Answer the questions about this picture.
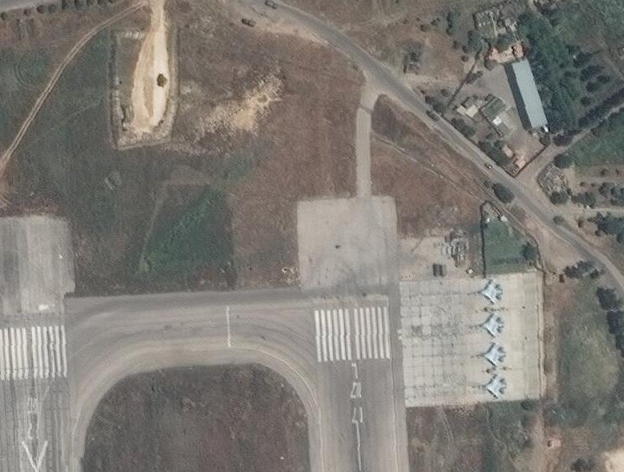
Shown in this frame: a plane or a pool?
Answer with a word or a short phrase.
plane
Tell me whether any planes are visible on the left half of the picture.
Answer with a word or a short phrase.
No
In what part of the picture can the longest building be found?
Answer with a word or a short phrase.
top right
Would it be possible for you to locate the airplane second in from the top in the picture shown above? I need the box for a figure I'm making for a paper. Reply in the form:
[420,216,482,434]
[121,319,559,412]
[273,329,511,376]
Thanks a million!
[472,315,504,337]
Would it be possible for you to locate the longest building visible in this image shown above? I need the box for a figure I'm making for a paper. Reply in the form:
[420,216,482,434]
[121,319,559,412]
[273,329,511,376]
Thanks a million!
[513,60,547,128]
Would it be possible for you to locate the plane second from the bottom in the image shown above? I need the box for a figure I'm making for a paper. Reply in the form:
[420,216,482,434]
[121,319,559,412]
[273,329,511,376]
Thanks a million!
[473,343,506,366]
